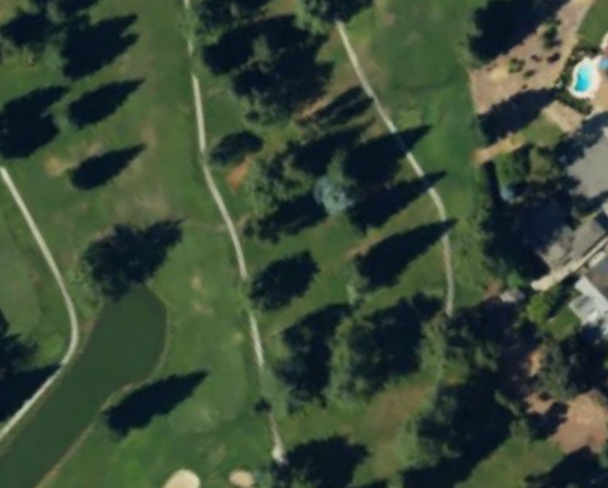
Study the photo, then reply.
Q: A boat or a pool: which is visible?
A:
pool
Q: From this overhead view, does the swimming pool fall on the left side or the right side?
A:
right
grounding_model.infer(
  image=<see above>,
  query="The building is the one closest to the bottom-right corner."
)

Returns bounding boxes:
[569,276,608,326]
